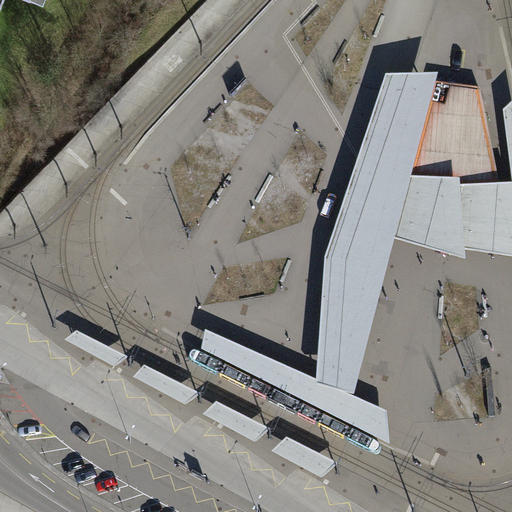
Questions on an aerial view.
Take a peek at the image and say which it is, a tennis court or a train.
train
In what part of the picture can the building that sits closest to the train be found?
right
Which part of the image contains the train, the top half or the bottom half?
bottom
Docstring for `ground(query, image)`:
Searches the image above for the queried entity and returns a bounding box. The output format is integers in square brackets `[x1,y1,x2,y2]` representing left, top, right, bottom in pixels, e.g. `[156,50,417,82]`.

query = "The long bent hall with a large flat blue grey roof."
[317,72,438,394]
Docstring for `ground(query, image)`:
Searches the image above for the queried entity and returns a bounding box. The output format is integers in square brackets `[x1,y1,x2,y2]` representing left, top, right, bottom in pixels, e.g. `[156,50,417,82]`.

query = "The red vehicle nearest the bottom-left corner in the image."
[94,480,118,495]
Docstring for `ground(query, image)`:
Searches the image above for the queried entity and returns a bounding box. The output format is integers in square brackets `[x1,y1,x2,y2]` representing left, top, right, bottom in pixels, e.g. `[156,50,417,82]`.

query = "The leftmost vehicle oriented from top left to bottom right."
[69,424,92,444]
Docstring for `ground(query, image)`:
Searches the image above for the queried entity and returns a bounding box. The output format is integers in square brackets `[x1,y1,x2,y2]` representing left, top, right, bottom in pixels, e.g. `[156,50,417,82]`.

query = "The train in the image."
[188,350,382,455]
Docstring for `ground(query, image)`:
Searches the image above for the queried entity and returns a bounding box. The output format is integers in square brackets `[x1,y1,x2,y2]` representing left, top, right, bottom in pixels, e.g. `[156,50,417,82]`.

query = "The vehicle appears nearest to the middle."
[320,196,335,222]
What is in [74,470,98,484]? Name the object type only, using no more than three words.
car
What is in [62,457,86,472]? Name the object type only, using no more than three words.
car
